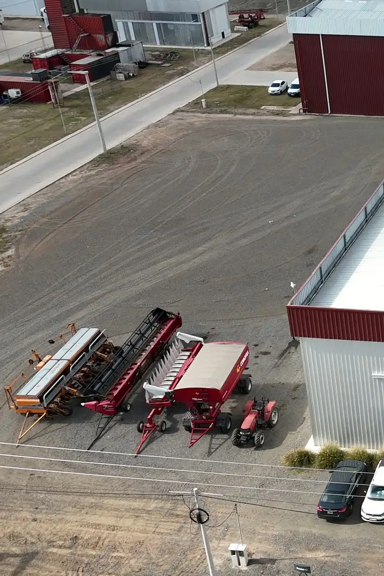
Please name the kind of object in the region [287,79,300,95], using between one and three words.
vehicle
